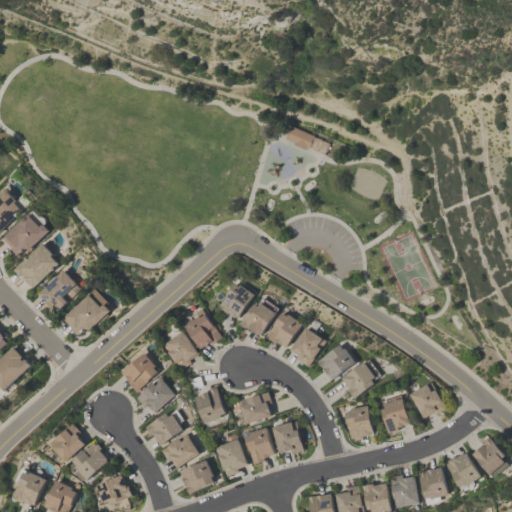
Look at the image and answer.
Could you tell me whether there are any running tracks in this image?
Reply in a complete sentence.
No, there's no running track here.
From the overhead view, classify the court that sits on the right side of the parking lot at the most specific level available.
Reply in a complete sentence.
The court that sits on the right side of the parking lot in the image is a basketball court.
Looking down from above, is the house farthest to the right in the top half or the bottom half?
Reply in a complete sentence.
The bottom half of the photo is where the house farthest to the right is.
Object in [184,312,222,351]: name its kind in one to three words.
house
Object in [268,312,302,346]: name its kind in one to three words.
house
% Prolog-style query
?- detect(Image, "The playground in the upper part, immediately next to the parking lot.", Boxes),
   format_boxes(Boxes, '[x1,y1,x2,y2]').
[256,136,321,192]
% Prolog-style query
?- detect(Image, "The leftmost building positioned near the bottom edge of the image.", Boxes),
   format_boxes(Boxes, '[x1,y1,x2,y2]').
[13,474,46,506]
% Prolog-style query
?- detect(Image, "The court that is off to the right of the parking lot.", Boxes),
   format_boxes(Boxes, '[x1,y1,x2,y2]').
[381,232,437,302]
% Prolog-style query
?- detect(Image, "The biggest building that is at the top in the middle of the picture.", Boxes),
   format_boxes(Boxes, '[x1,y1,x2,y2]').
[287,127,315,150]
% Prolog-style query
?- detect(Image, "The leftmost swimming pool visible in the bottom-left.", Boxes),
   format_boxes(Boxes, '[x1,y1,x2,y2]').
[38,458,56,476]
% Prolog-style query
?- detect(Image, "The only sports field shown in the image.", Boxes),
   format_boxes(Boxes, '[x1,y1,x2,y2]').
[354,167,388,197]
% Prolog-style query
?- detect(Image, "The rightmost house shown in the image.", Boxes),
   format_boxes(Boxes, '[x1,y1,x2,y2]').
[471,440,508,477]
